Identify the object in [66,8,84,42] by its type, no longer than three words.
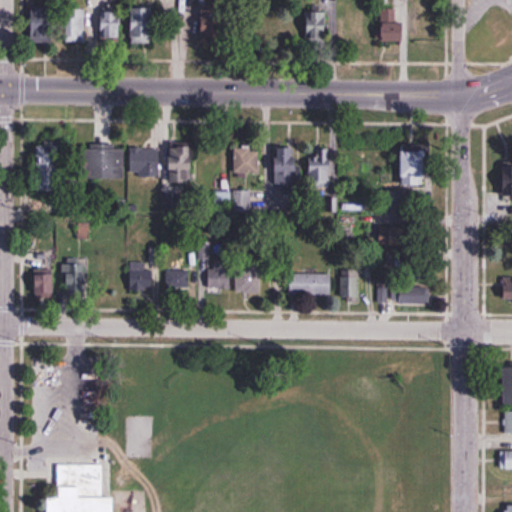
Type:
house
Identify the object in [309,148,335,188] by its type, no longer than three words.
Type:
house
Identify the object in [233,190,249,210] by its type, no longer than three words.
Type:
building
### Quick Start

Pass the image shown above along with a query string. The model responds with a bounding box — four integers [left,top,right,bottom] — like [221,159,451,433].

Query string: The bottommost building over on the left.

[46,464,112,512]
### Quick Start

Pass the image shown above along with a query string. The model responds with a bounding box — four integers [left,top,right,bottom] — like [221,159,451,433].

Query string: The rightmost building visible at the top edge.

[380,8,402,42]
